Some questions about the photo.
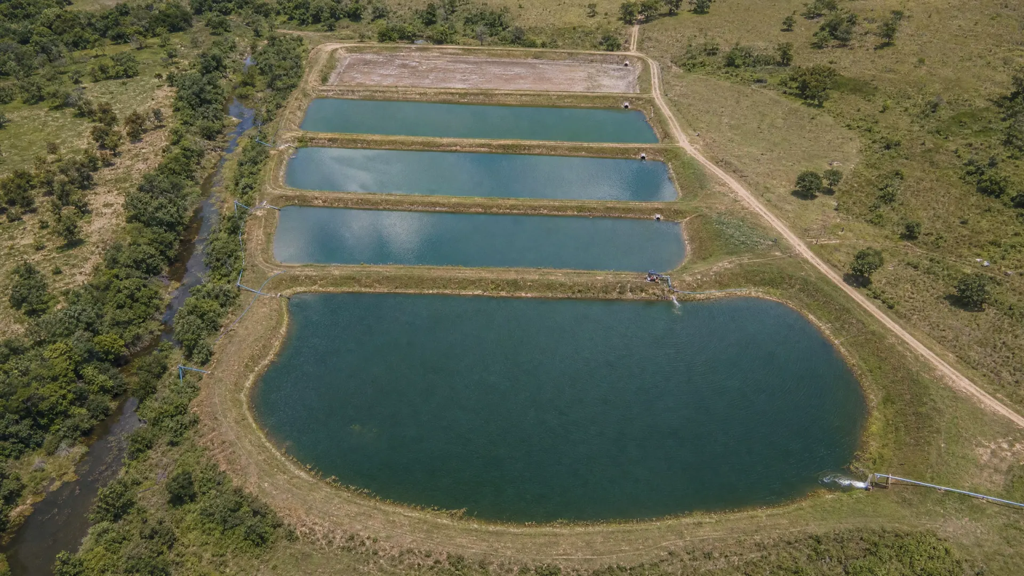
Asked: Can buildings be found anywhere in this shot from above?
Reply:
No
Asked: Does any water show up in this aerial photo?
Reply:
Yes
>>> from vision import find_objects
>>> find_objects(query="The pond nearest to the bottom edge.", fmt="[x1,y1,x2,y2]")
[254,293,867,524]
